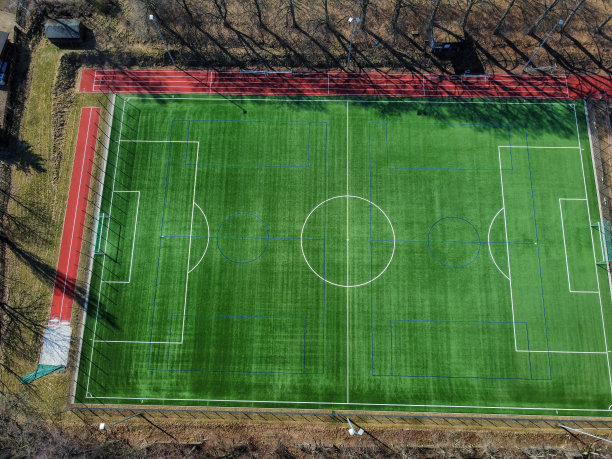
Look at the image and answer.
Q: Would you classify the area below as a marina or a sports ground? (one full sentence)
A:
The area seen from above is a sports ground.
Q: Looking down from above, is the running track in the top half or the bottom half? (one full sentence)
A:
It is in the top half that the running track appears.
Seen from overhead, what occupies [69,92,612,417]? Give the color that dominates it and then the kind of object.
green soccer field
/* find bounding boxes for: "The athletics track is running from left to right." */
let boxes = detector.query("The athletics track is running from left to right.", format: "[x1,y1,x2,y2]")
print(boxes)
[78,68,612,99]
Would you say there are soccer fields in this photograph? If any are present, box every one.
[369,123,551,380]
[148,120,327,374]
[69,92,612,417]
